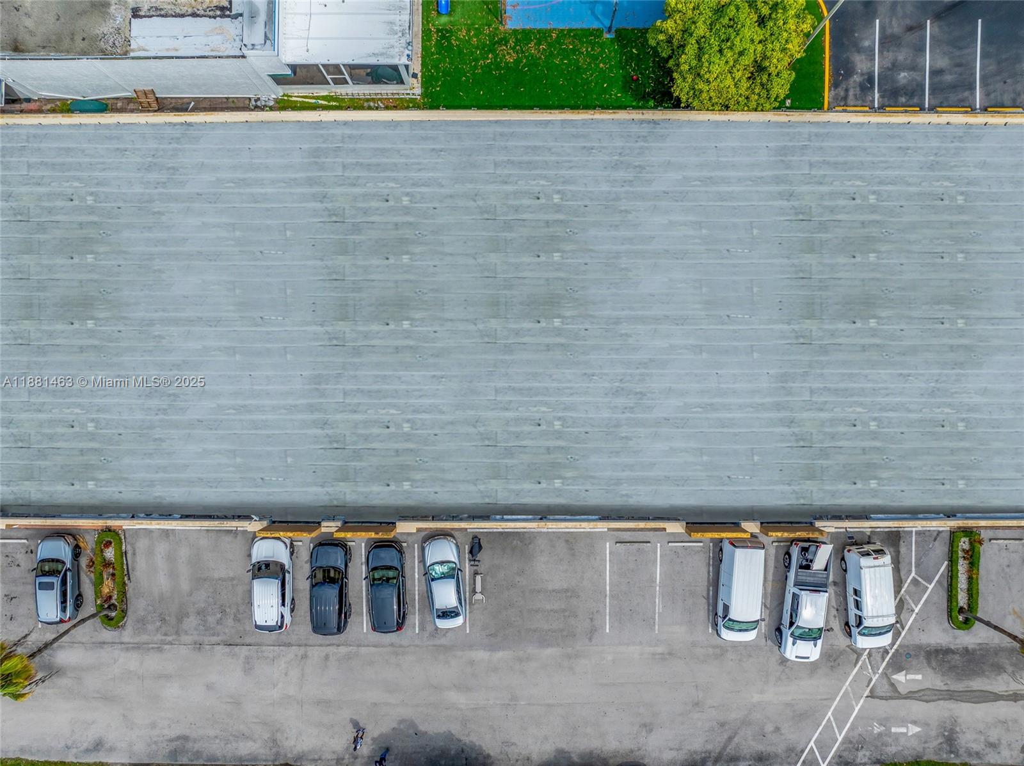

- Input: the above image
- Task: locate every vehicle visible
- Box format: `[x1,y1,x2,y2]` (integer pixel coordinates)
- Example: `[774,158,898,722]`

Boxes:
[421,535,467,630]
[716,539,770,642]
[361,540,407,634]
[842,540,902,648]
[245,539,297,633]
[28,533,86,625]
[775,539,835,662]
[303,538,352,636]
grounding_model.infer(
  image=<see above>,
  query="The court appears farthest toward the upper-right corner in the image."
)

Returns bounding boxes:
[506,0,722,36]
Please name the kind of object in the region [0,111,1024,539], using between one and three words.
warehouse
